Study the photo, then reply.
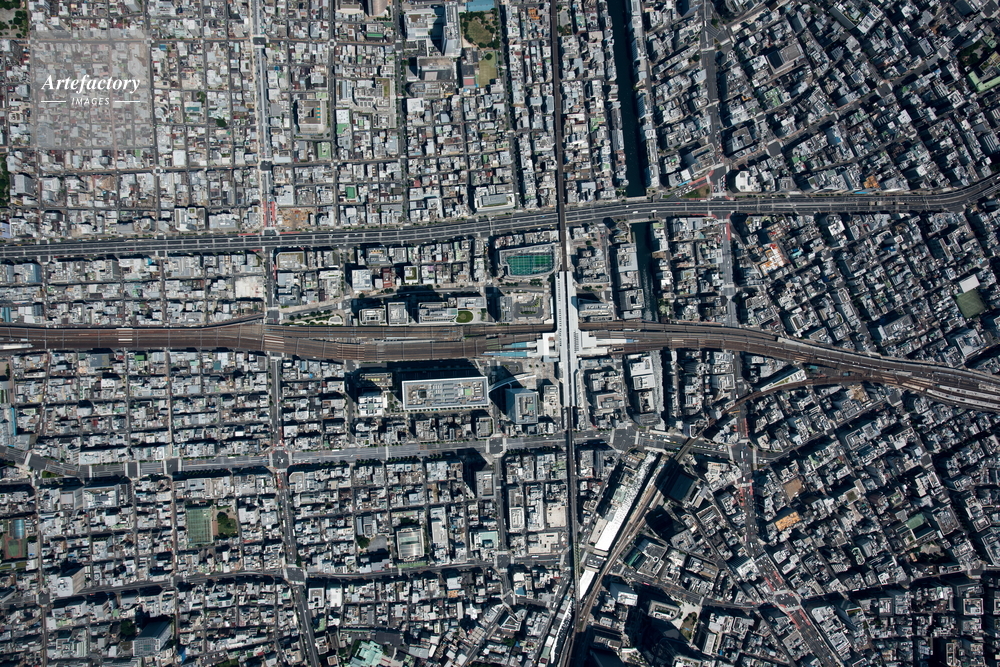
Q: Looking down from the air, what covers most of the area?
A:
buildings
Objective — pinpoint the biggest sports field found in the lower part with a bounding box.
[187,505,215,545]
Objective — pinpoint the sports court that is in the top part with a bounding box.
[508,254,553,274]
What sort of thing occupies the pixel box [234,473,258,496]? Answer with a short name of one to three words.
building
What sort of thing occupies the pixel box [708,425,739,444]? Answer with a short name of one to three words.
building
